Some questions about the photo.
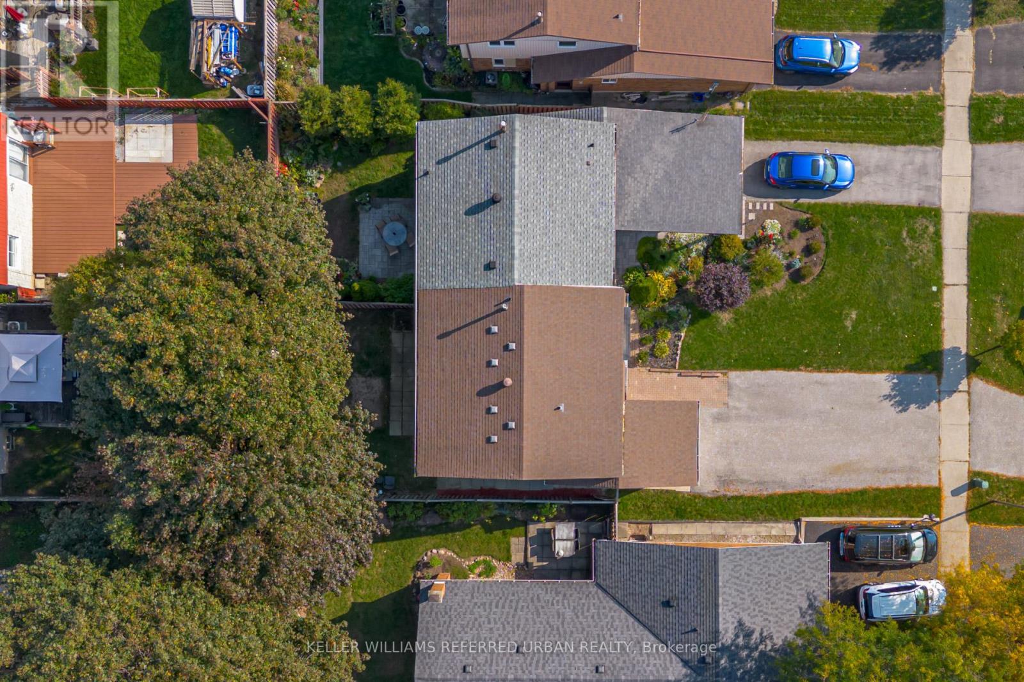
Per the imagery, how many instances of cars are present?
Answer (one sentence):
The count of cars comes to 4.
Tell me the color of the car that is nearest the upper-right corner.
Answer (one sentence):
The car that is nearest the upper-right corner looks blue in the image.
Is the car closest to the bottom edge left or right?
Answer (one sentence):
The car closest to the bottom edge sits on the right side.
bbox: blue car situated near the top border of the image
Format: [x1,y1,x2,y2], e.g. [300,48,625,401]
[773,29,857,78]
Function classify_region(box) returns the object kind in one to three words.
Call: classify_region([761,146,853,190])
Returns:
car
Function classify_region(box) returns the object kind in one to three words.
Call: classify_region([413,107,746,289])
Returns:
house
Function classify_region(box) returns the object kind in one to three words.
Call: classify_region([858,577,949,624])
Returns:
car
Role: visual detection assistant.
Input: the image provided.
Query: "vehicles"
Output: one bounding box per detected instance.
[833,523,935,570]
[761,146,853,190]
[773,29,857,78]
[858,577,949,624]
